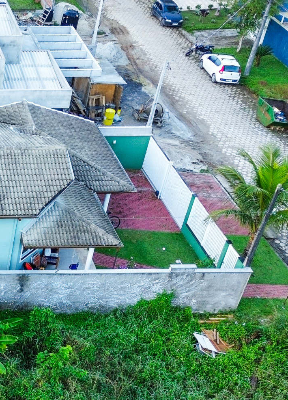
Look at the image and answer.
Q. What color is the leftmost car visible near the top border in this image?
blue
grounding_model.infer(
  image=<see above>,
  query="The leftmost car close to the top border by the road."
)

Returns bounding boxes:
[150,0,186,24]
